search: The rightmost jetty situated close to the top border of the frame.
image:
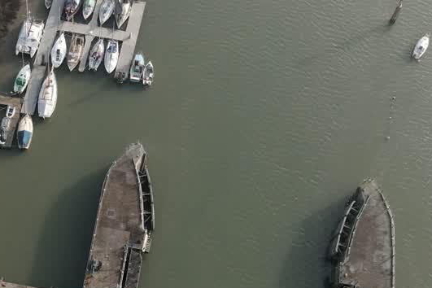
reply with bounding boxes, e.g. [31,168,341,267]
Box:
[115,1,146,81]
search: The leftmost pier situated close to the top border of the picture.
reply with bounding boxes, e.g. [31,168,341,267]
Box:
[22,0,65,115]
